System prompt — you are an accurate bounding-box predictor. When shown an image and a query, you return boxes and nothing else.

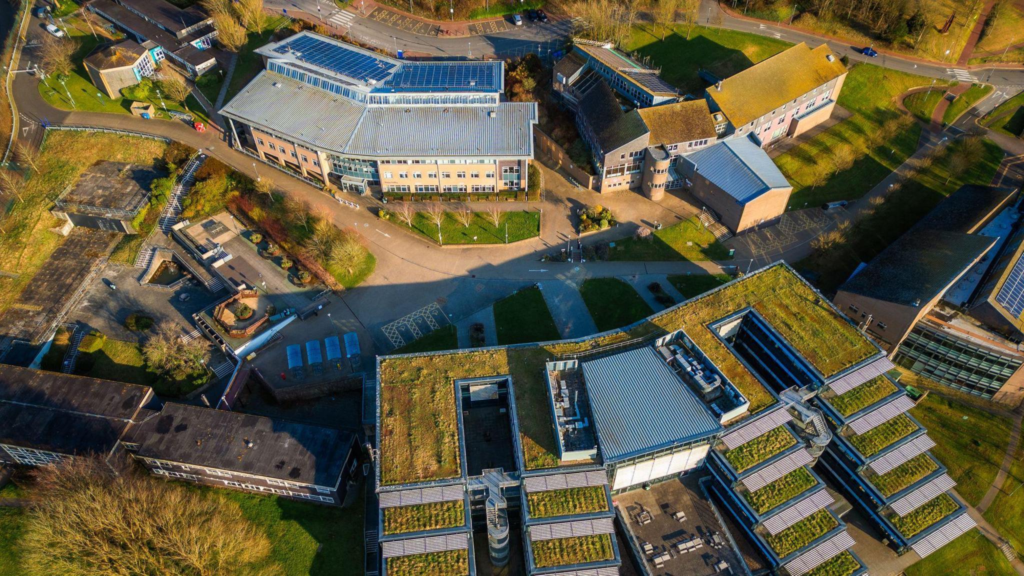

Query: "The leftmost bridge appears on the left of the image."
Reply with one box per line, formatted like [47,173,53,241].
[214,357,257,412]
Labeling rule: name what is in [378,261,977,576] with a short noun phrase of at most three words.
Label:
building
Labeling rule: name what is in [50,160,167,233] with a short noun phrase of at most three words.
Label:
building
